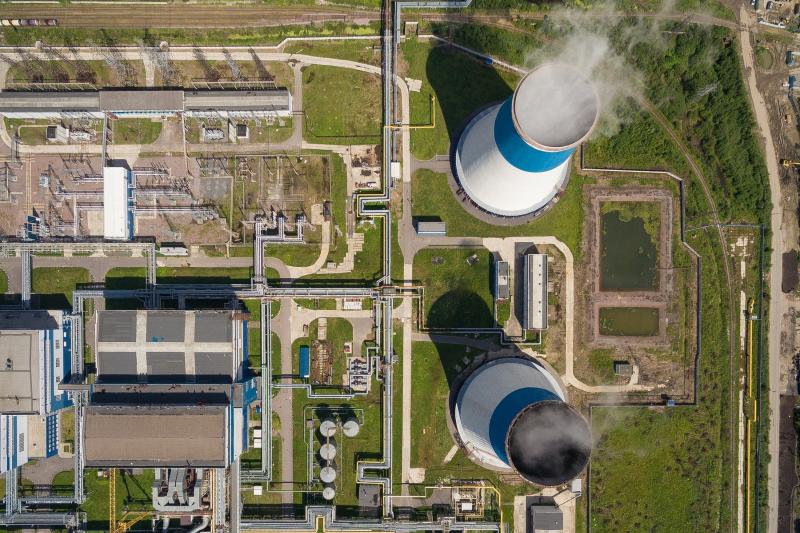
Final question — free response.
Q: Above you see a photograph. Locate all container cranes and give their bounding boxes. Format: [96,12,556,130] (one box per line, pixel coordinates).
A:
[109,467,153,533]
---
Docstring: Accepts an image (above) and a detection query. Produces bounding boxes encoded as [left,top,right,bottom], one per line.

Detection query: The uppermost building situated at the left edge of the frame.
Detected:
[0,89,294,123]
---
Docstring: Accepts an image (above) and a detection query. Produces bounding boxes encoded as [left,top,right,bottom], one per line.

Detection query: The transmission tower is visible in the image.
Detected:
[690,80,720,99]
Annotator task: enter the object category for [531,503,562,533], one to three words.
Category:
building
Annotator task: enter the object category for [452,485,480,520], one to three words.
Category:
building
